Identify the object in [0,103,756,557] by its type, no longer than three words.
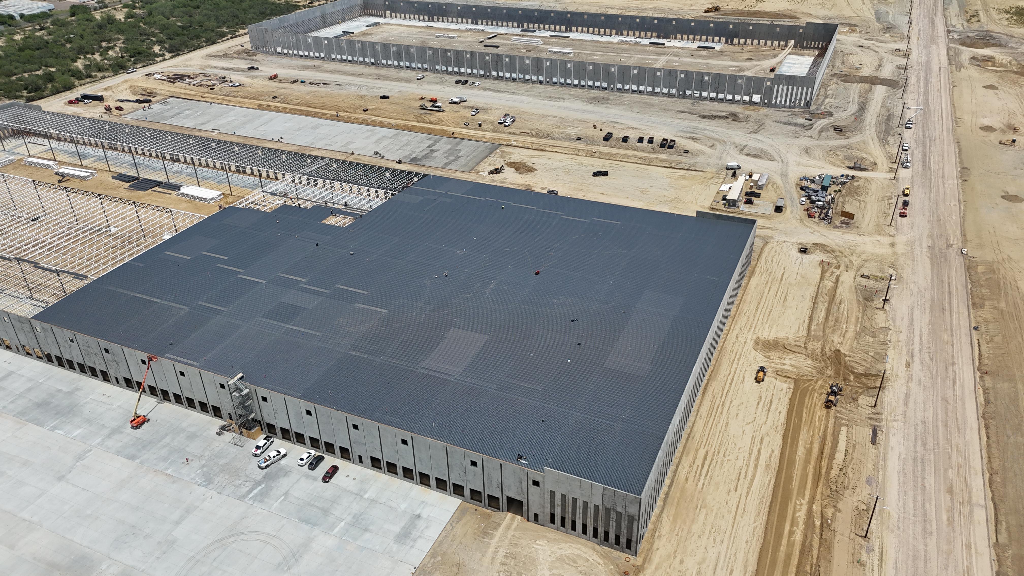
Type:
warehouse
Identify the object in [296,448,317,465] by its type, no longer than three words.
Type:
car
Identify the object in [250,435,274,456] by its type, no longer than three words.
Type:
truck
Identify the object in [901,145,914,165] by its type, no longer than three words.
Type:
vehicle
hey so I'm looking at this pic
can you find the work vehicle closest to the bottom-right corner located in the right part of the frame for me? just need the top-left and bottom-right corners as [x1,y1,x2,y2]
[825,377,848,404]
